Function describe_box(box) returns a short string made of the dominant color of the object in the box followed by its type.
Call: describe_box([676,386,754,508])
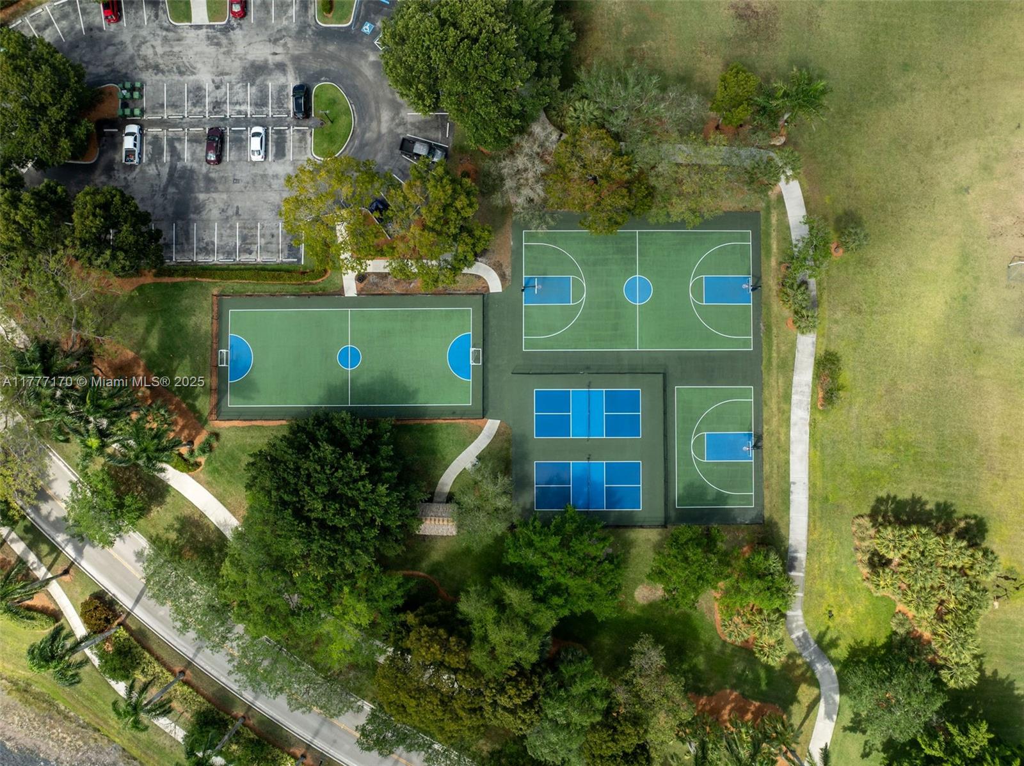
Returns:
green basketball court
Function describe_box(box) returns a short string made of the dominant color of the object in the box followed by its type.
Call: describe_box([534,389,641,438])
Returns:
blue sports court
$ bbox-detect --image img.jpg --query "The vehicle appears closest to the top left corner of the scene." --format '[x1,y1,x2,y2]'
[101,0,122,25]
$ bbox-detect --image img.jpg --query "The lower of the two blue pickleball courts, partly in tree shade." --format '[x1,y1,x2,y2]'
[534,461,642,510]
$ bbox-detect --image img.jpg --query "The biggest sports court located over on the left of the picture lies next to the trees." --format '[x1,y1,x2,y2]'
[217,294,482,420]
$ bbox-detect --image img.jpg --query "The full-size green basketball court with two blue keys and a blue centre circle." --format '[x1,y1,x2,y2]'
[523,230,752,350]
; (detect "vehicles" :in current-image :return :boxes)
[101,0,122,25]
[398,135,446,164]
[121,125,142,165]
[290,83,310,121]
[231,0,247,20]
[248,126,267,162]
[205,128,224,165]
[370,198,401,233]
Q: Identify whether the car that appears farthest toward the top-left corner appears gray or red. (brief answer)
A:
red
